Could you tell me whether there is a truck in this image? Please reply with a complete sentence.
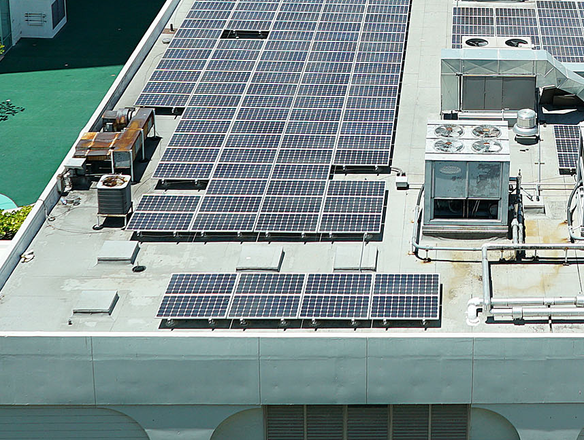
No, the picture doesn't show any truck.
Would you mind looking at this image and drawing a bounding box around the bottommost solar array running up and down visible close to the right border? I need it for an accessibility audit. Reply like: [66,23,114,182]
[554,126,582,181]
